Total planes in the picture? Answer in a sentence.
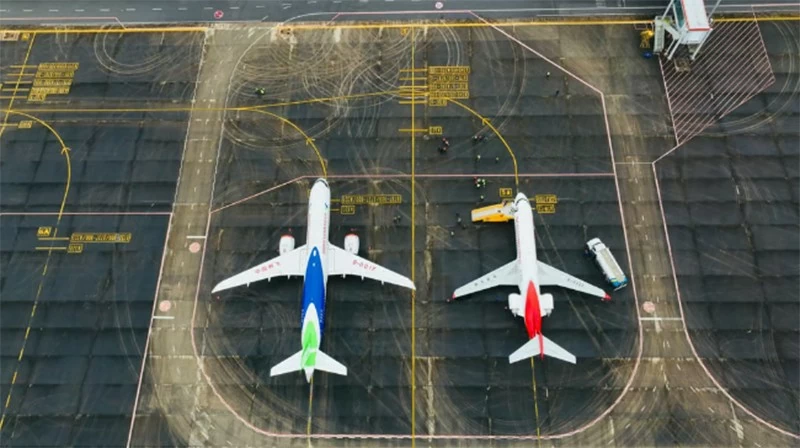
Altogether the scene contains 2 planes.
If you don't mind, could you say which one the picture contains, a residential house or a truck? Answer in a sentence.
I can see a truck in this picture.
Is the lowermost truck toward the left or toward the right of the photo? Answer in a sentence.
The lowermost truck is on the right side of the image.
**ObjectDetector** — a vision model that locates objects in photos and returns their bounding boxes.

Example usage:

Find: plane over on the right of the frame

[452,193,613,364]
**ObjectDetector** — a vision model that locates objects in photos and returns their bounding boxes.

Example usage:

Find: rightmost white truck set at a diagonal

[584,235,627,290]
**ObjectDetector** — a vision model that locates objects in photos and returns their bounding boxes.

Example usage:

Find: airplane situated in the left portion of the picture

[211,179,416,385]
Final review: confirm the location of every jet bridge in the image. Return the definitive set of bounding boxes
[648,0,723,59]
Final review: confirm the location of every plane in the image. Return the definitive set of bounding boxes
[452,193,613,364]
[211,179,416,385]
